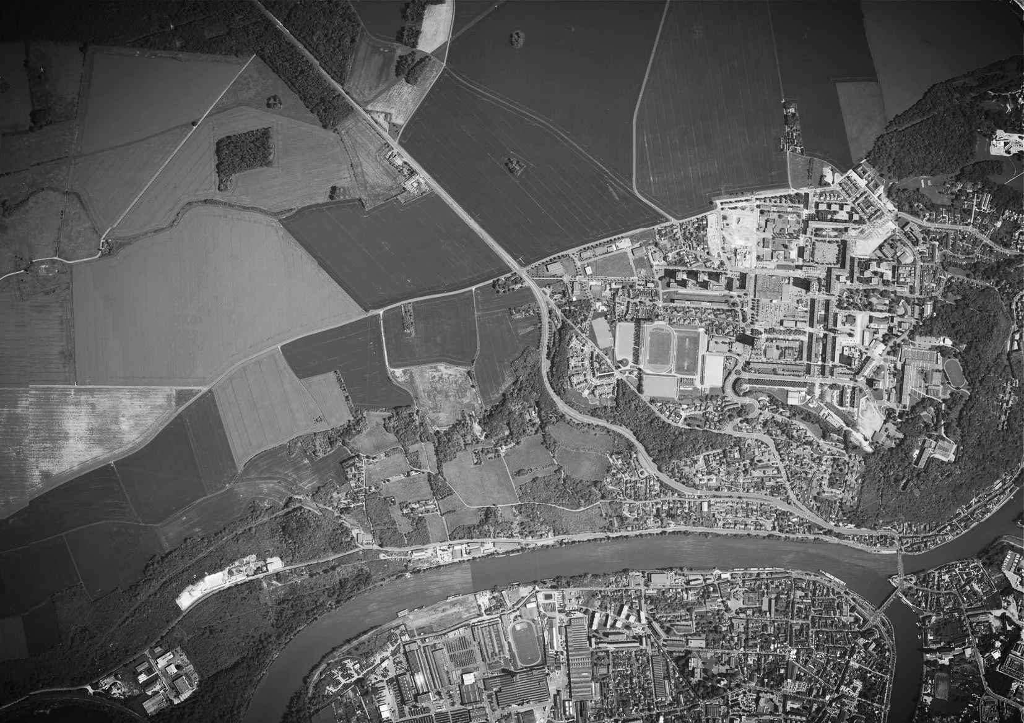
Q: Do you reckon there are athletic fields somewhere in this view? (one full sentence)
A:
Yes, this view includes an athletic field.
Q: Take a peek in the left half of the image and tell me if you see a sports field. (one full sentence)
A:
No, there's no sports field to be seen in the left half of the image.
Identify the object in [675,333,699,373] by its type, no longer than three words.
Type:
sports field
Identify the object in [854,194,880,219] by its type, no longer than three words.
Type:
building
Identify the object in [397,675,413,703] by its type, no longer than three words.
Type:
building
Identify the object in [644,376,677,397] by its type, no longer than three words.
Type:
sports field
